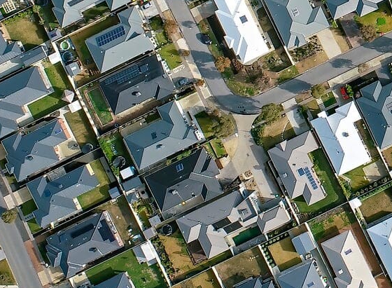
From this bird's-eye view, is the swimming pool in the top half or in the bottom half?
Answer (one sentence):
The bottom half of the photo is where the swimming pool is.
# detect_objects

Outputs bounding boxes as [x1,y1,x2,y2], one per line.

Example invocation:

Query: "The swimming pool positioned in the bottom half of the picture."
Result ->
[231,226,261,249]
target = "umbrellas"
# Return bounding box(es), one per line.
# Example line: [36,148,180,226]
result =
[68,139,79,149]
[63,89,76,102]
